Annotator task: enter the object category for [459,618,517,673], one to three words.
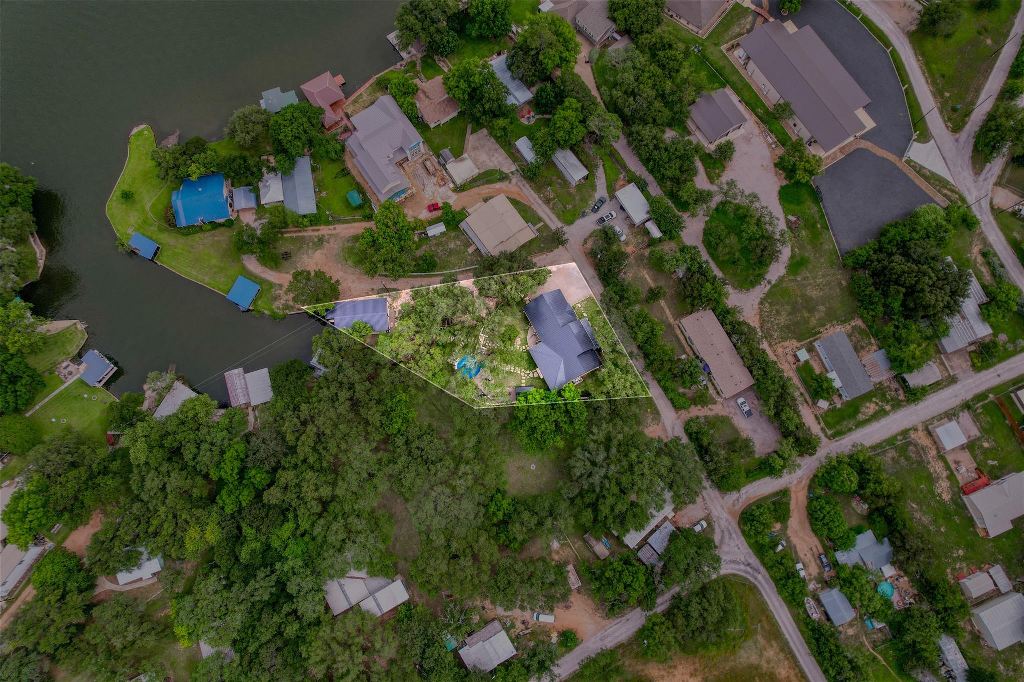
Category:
house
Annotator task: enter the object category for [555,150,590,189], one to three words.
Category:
building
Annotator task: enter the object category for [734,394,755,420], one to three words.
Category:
truck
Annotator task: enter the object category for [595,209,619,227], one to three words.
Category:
vehicle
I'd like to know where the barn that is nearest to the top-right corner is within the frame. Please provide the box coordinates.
[736,20,872,159]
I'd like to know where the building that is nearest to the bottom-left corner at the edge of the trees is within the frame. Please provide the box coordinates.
[0,541,51,597]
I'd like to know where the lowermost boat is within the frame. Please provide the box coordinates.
[807,595,825,624]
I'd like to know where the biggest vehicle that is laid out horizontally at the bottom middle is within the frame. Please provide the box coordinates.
[532,612,557,624]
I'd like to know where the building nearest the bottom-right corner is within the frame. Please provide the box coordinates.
[966,590,1024,650]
